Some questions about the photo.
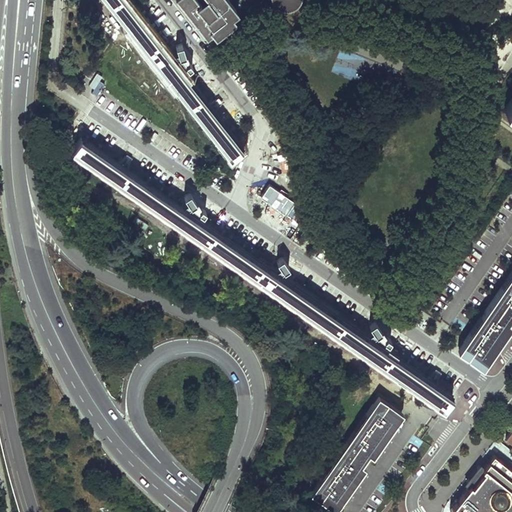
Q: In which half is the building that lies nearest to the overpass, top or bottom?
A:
bottom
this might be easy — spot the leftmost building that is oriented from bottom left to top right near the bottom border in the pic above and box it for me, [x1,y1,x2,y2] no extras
[313,396,407,512]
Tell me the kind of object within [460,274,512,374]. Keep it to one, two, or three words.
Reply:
building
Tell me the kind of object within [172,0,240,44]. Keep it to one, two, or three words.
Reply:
building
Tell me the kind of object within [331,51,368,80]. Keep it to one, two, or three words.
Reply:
sports court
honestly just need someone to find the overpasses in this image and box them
[197,466,242,512]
